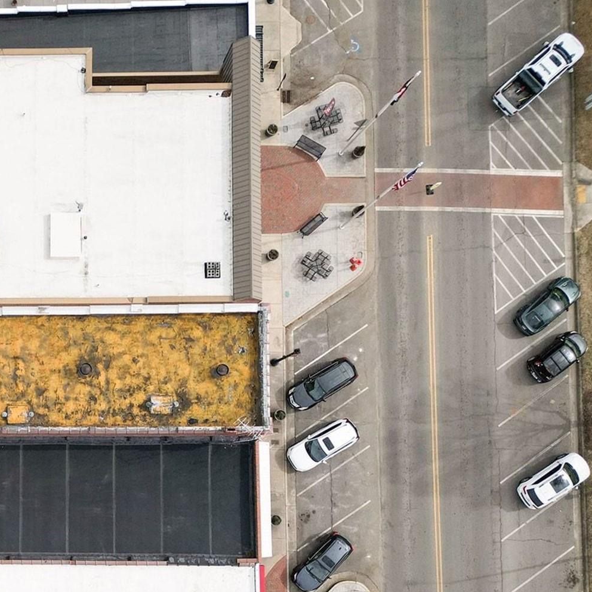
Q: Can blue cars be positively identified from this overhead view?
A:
No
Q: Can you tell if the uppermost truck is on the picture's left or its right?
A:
right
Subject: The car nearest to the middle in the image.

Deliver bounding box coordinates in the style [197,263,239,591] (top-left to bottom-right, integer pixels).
[283,356,359,411]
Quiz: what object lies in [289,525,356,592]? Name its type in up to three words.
car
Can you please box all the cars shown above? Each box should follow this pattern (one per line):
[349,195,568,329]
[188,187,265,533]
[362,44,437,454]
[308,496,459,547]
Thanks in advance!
[289,525,356,592]
[283,415,360,473]
[505,278,578,340]
[283,356,359,411]
[519,332,585,387]
[510,452,587,511]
